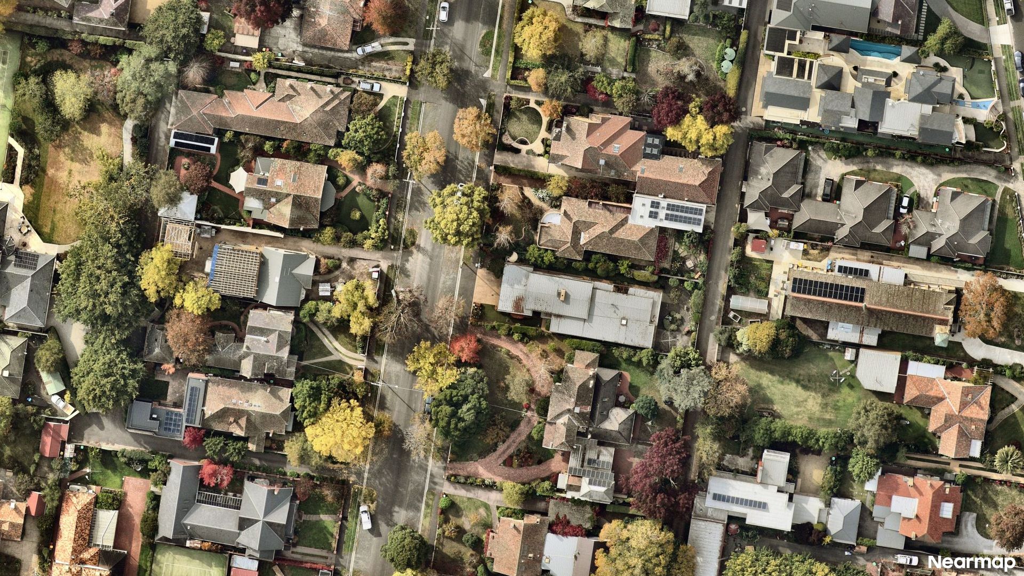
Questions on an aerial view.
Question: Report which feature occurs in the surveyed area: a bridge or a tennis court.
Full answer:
Looking from above, you can make out a tennis court.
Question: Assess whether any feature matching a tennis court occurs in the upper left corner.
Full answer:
Yes, a tennis court appears in the upper left corner.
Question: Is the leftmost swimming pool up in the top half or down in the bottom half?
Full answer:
The top half of the photo is where the leftmost swimming pool is.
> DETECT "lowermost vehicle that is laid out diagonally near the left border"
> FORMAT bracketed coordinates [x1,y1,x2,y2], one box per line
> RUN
[50,392,74,417]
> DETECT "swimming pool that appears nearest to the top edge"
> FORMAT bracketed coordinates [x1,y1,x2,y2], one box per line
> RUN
[850,39,901,60]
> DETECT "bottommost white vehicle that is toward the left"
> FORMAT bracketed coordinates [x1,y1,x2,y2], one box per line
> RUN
[358,504,371,530]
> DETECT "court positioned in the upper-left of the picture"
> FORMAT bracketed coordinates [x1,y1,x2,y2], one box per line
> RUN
[0,29,22,182]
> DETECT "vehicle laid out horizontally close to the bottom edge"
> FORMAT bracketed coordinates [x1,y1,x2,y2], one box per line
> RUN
[891,553,918,565]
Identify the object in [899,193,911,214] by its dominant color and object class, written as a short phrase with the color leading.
white vehicle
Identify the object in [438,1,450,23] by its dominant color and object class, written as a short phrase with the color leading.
white vehicle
